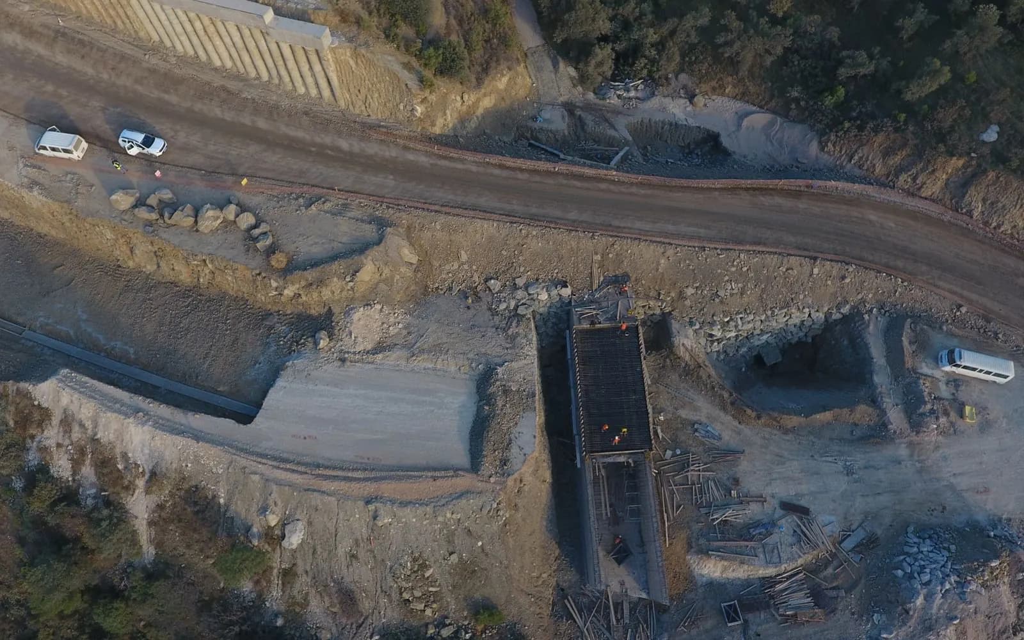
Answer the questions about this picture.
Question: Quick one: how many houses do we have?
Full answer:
There are no houses in this view.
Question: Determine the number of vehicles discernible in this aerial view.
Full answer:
In total, 3 vehicles can be seen.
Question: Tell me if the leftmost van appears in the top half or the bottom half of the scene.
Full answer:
It is in the top half that the leftmost van appears.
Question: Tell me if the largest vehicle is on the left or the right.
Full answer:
The largest vehicle sits on the right side.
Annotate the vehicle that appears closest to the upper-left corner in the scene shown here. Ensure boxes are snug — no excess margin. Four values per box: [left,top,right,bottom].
[29,127,85,161]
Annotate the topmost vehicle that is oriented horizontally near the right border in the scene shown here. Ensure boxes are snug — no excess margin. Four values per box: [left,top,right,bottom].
[937,349,1015,383]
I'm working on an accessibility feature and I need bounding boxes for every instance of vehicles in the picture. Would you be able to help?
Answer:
[937,349,1015,383]
[119,129,167,157]
[29,127,85,161]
